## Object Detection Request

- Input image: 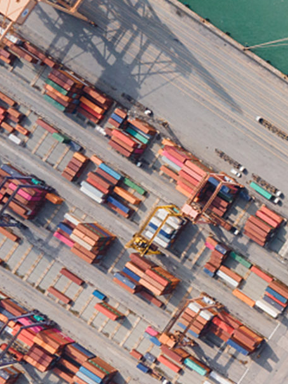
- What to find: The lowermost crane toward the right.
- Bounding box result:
[157,292,220,350]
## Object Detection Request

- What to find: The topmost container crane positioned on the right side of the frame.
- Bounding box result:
[180,172,242,227]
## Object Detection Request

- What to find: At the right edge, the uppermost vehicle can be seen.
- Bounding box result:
[257,117,288,139]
